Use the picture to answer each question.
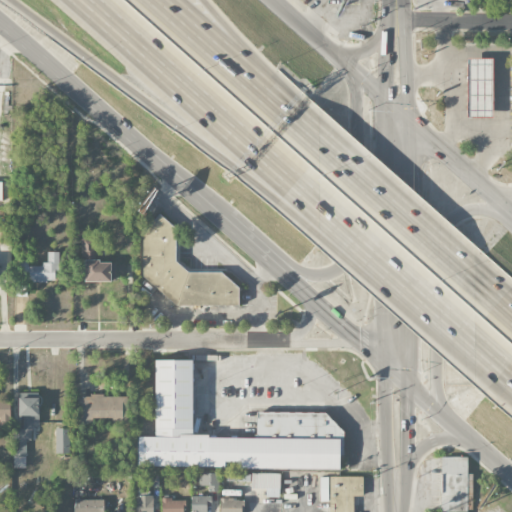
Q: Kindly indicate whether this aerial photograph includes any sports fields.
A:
No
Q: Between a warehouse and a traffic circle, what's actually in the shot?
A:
warehouse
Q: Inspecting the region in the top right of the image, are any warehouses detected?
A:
No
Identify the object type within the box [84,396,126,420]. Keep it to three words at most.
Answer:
house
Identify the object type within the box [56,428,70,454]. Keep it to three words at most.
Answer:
shed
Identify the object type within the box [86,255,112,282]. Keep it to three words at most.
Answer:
house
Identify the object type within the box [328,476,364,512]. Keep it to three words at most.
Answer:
building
